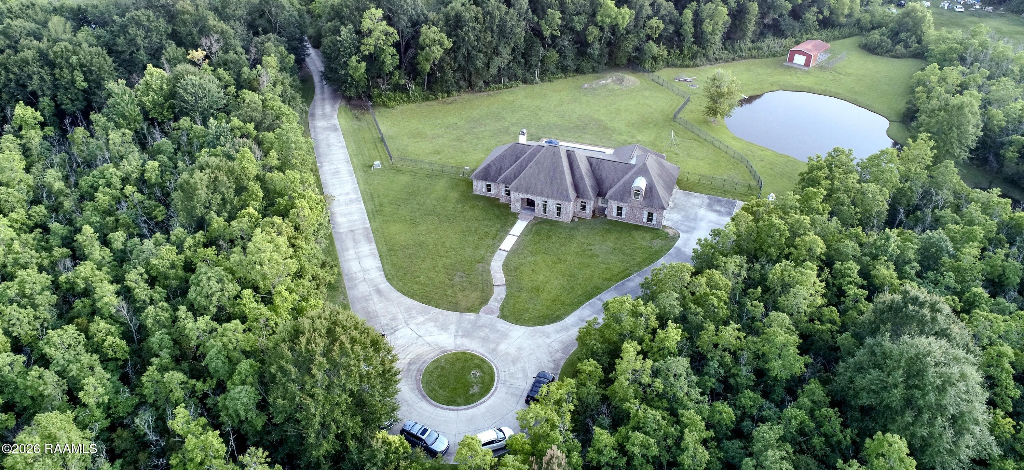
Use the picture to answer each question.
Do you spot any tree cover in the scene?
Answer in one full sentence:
Yes, the picture does contain tree cover.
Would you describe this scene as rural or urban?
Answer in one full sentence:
The land in this view is best described as rural.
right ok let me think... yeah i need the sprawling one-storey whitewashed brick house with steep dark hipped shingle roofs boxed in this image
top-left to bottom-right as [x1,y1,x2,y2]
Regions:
[470,126,681,228]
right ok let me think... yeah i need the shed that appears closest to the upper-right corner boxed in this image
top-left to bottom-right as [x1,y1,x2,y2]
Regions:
[779,36,830,69]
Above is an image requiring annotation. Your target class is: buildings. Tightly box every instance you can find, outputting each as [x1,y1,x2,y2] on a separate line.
[779,36,830,69]
[470,126,681,228]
